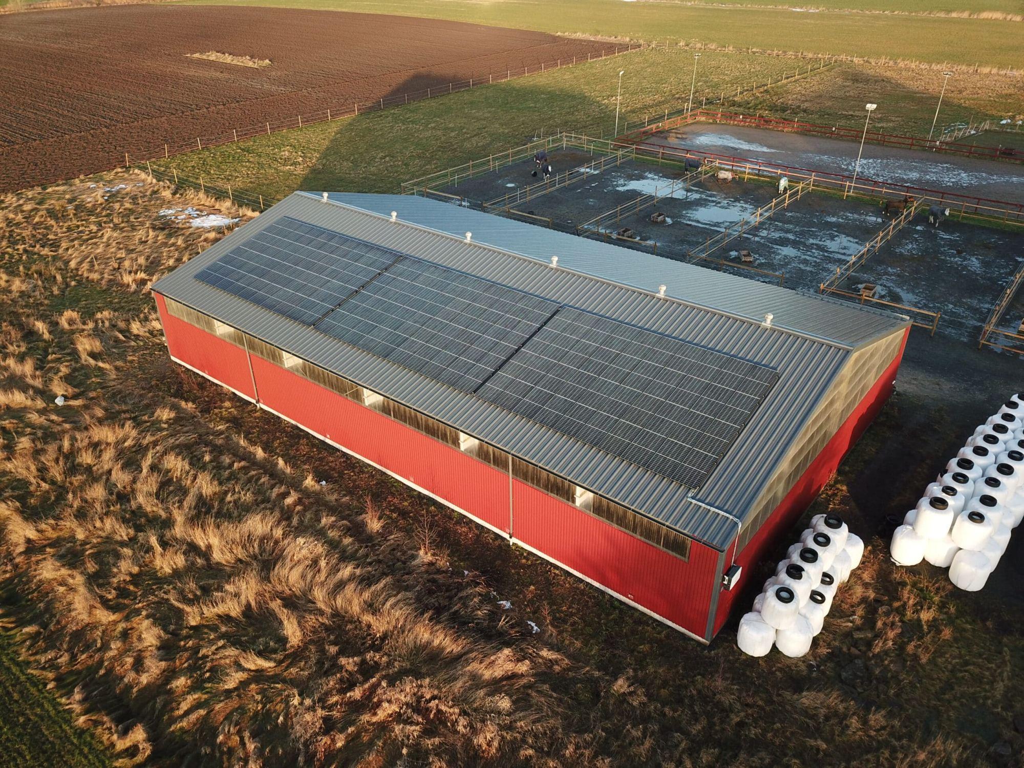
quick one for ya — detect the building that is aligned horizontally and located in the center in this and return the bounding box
[148,189,914,642]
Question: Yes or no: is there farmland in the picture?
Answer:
Yes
